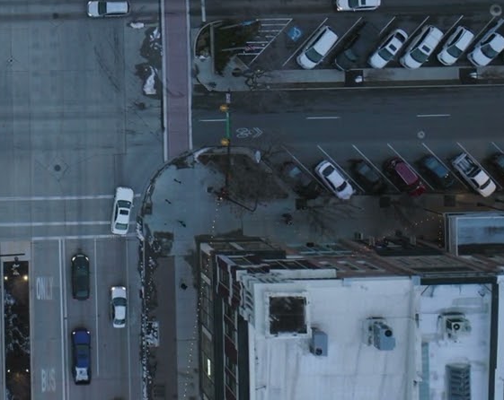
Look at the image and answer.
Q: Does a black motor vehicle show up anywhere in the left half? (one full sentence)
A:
Yes, looking in the left half, one can make out a black motor vehicle.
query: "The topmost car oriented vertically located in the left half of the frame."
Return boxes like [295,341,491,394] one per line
[111,187,135,235]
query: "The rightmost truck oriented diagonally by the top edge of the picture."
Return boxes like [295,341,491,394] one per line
[467,18,504,67]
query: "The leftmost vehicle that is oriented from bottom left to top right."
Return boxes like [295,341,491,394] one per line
[297,26,340,68]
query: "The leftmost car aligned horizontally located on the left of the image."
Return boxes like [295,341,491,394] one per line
[88,0,128,19]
